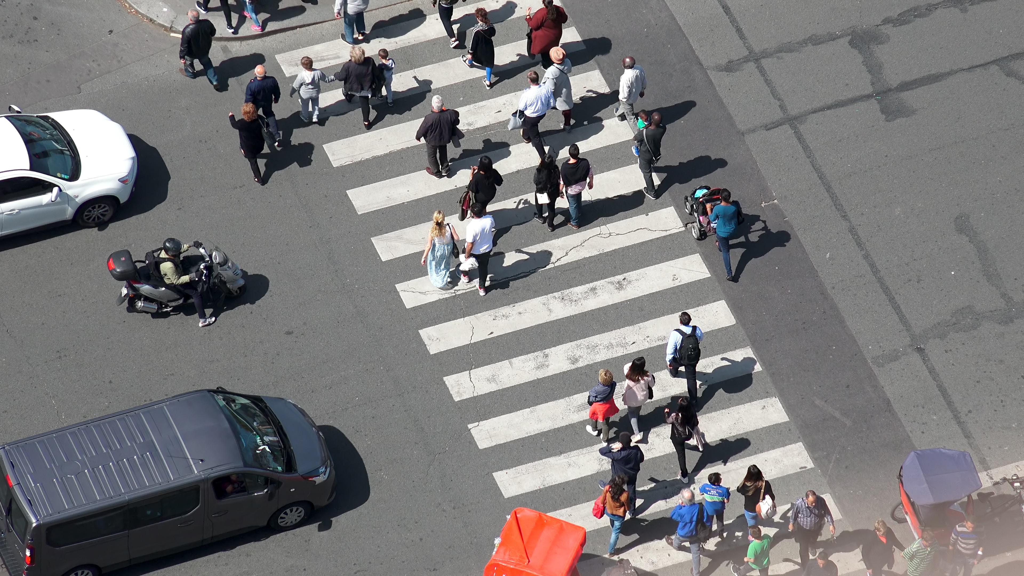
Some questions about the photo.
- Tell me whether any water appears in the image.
No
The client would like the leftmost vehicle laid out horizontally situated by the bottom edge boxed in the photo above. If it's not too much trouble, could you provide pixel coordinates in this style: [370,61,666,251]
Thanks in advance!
[0,384,338,576]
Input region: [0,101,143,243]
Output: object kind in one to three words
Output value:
car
